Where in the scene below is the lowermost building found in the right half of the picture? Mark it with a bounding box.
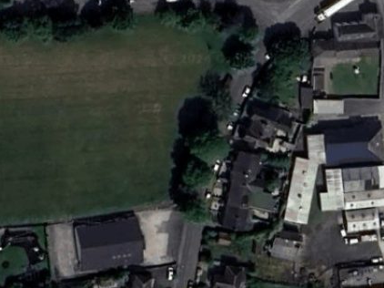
[213,265,250,288]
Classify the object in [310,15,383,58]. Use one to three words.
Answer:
building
